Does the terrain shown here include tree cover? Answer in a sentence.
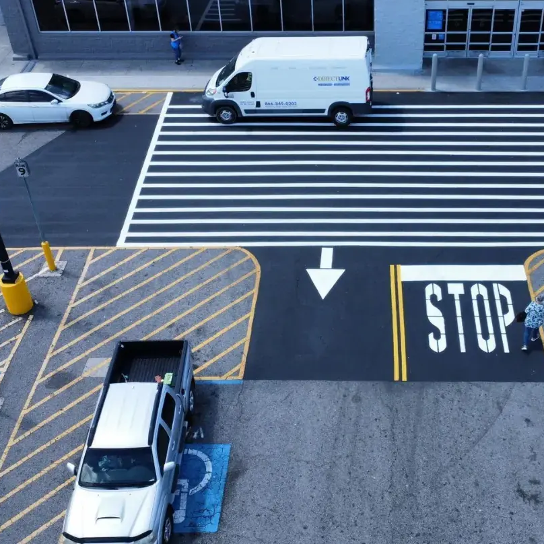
No, there's no tree cover in this view.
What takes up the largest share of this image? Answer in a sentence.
The bulk of the photo consists of paved ground.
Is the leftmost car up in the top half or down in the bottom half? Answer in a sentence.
The top half of the photo is where the leftmost car is.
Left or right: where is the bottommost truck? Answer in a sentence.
The bottommost truck appears in the left half of the scene.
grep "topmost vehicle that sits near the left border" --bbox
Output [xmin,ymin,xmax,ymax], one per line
[0,69,119,128]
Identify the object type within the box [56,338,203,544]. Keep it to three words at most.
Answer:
truck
